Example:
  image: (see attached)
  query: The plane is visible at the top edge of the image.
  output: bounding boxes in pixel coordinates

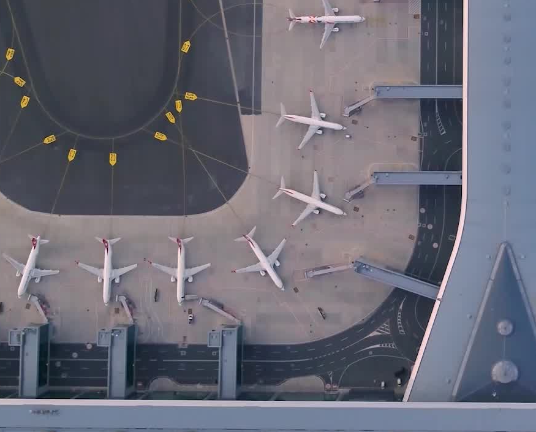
[288,0,365,48]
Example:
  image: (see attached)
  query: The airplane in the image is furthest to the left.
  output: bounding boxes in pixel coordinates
[5,231,60,302]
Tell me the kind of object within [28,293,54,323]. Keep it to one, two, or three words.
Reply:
jet bridge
